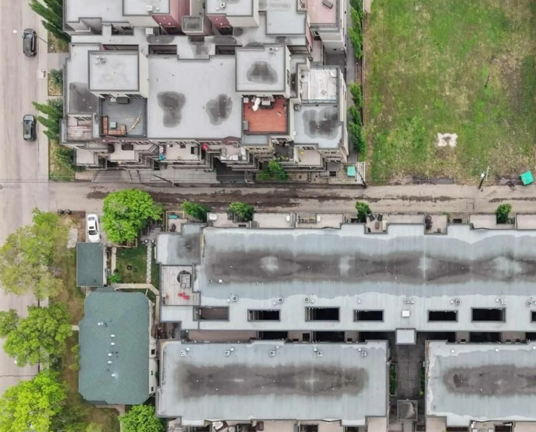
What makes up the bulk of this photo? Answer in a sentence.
The largest share of the image is taken up by buildings.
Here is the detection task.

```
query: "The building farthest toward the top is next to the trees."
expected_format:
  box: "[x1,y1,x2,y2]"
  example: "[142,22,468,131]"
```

[64,0,349,173]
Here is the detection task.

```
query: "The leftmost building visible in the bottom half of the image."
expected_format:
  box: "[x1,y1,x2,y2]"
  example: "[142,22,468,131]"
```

[77,243,108,286]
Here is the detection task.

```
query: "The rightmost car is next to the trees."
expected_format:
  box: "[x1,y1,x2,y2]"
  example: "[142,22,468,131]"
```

[87,215,102,243]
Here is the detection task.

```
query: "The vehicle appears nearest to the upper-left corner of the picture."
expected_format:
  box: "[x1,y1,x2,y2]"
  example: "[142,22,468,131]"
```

[22,29,38,56]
